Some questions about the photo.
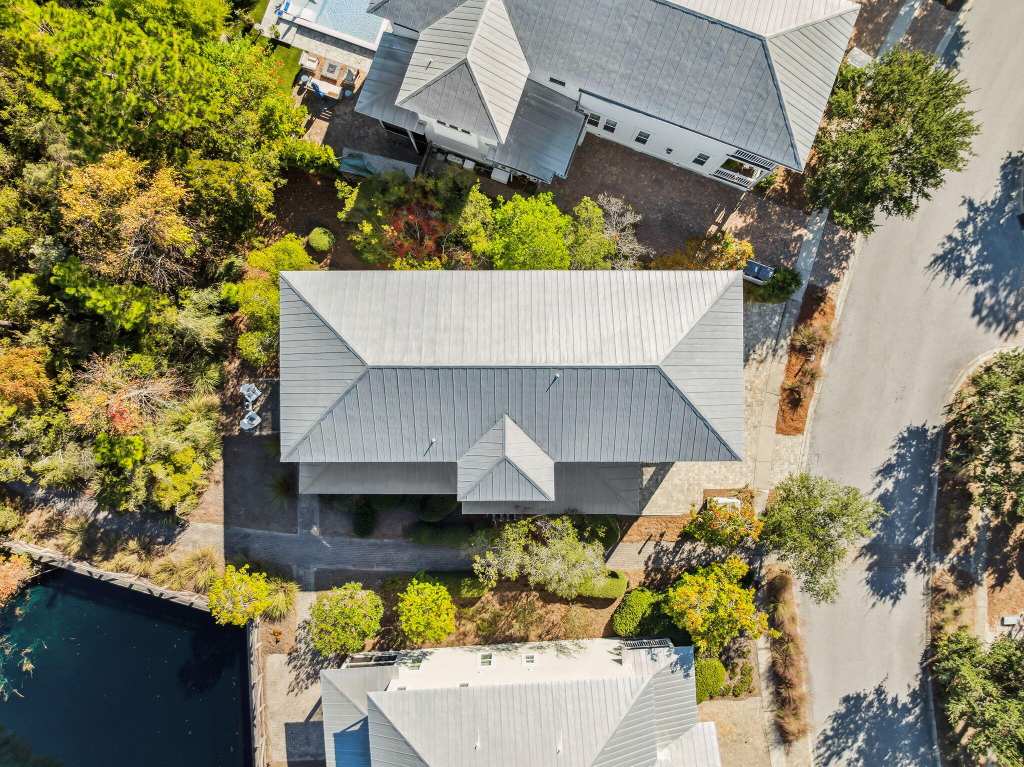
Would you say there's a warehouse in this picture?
No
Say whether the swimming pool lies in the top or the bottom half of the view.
top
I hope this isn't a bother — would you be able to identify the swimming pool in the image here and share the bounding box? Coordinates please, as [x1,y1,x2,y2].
[277,0,390,55]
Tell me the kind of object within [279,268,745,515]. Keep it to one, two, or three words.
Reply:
house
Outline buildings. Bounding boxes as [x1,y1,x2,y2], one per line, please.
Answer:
[279,268,745,515]
[353,0,866,191]
[319,637,720,767]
